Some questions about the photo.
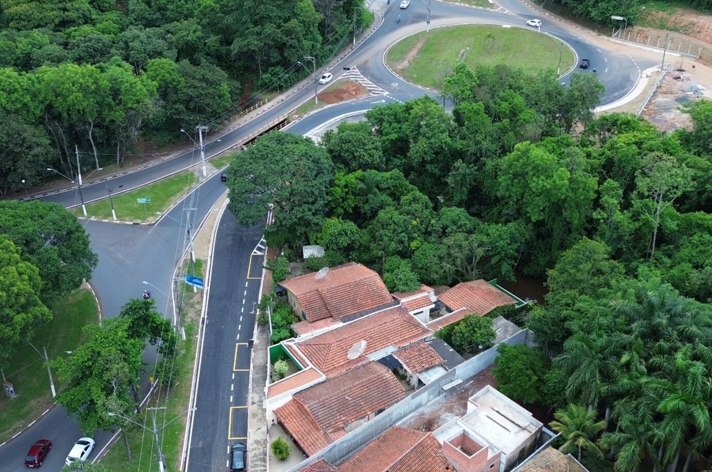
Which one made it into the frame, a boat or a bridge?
bridge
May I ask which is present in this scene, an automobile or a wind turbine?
automobile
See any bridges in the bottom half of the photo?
No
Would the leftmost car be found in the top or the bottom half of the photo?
bottom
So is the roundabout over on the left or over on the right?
right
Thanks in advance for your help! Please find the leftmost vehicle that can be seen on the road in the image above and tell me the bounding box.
[24,438,52,467]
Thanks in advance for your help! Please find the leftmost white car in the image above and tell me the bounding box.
[62,435,95,466]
